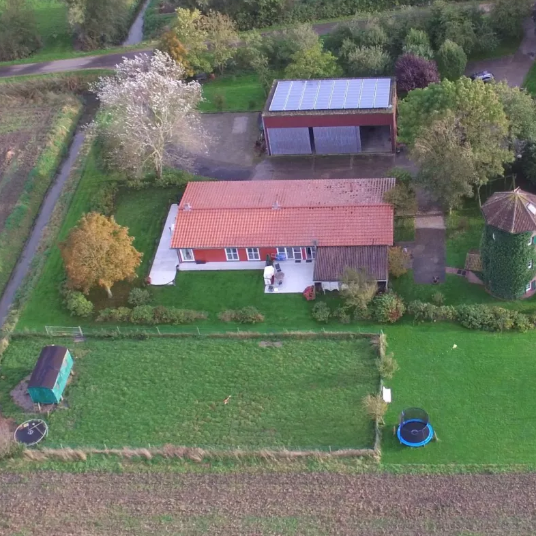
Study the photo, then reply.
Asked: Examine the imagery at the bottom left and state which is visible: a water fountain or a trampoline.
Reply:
trampoline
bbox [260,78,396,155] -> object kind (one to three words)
barn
